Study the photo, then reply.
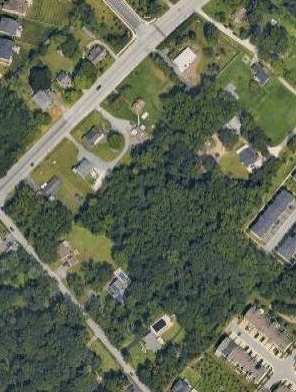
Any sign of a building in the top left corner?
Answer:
Yes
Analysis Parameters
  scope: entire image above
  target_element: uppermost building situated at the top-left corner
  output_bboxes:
[2,0,31,17]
